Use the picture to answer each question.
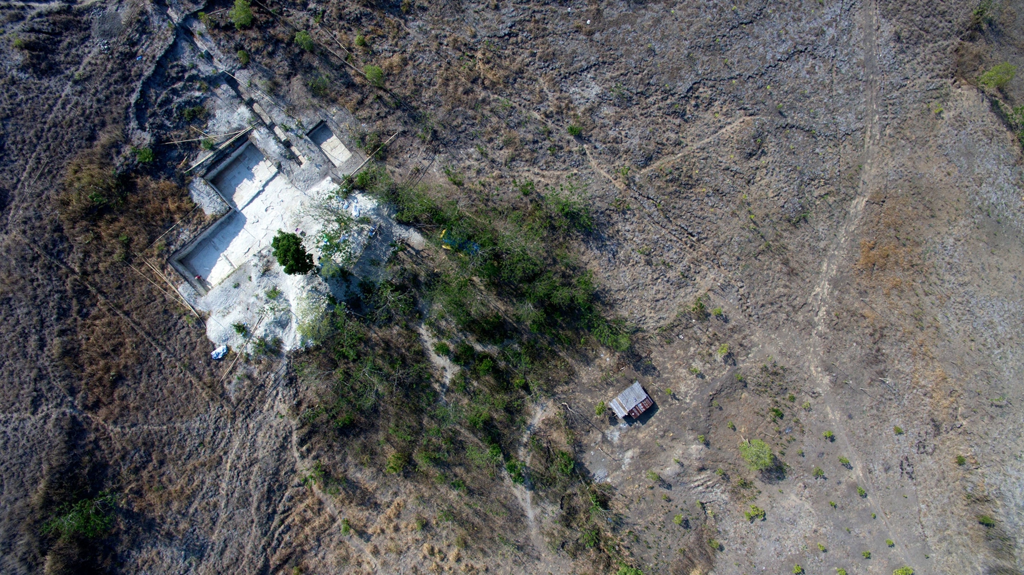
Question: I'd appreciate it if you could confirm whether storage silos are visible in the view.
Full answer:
No, I find no storage silo anywhere in the image.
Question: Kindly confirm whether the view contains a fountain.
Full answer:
No, the frame has no fountain in it.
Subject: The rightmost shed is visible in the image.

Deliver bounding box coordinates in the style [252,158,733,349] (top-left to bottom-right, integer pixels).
[608,379,653,419]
